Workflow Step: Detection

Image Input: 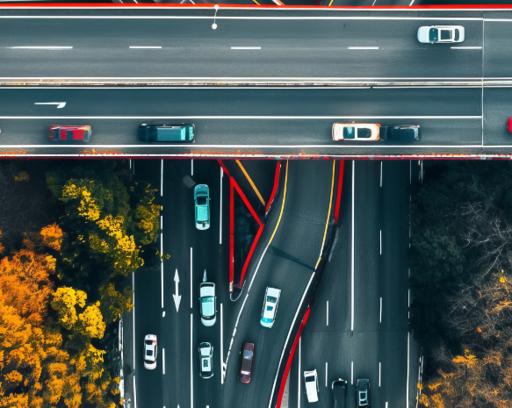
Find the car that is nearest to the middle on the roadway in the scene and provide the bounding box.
[192,183,211,230]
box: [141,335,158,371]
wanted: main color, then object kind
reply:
white car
